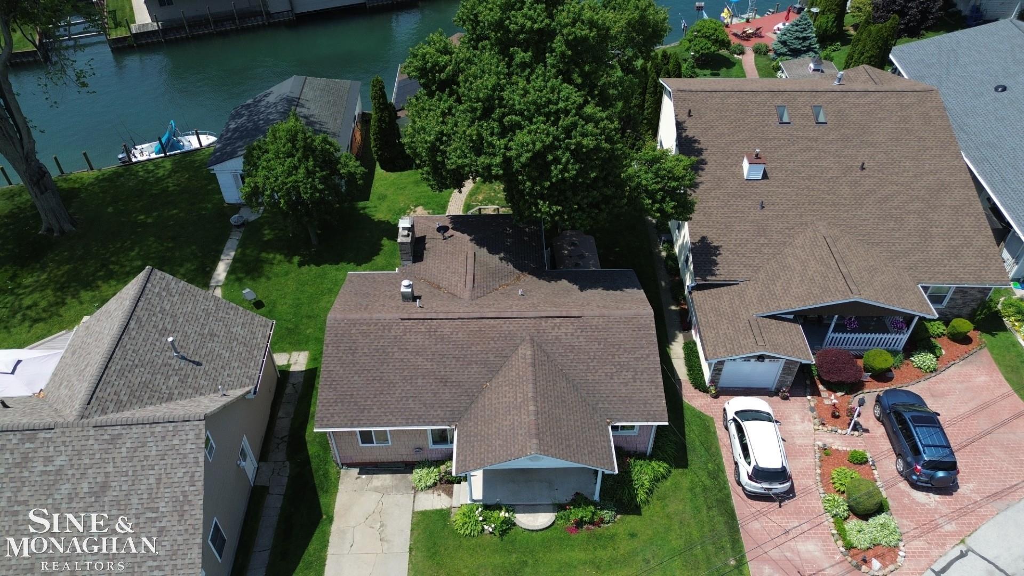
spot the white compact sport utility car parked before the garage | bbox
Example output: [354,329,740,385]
[724,401,798,505]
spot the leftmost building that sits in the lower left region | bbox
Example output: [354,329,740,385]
[0,265,281,576]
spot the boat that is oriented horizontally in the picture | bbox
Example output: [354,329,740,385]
[111,116,218,164]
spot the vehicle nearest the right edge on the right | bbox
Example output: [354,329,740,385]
[877,395,968,492]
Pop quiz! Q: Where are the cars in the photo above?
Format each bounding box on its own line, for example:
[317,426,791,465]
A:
[877,395,968,492]
[724,401,798,505]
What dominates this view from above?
buildings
